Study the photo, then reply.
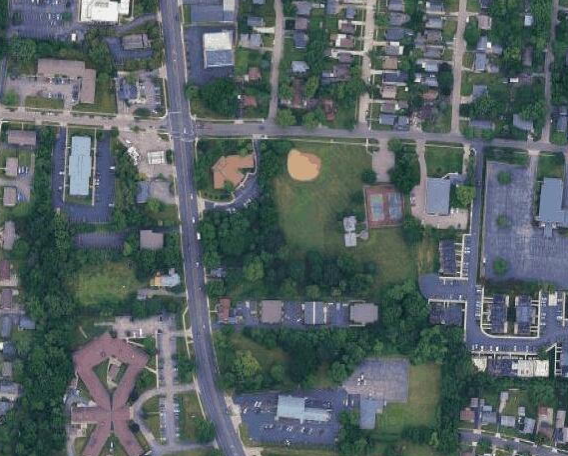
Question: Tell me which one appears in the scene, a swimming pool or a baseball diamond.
baseball diamond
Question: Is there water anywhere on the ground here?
No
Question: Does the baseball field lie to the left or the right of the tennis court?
to the left of it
